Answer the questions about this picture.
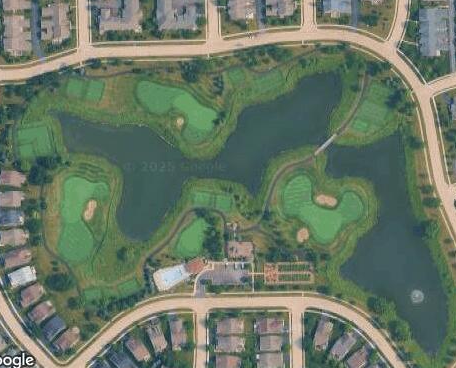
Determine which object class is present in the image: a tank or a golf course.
golf course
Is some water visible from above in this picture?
Yes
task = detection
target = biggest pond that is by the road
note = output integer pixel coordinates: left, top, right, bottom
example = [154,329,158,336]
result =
[48,72,447,355]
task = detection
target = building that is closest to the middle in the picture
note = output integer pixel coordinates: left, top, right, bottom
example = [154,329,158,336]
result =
[228,240,252,260]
